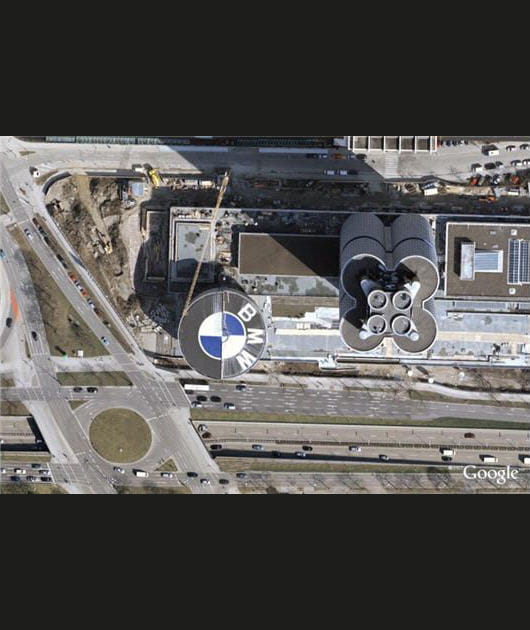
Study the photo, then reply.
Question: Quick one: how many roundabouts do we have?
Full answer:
I count 1 roundabout.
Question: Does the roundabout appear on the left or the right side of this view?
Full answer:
The roundabout sits on the left side.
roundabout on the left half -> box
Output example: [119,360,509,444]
[88,407,153,465]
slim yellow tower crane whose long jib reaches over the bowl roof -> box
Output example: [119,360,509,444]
[182,164,231,318]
